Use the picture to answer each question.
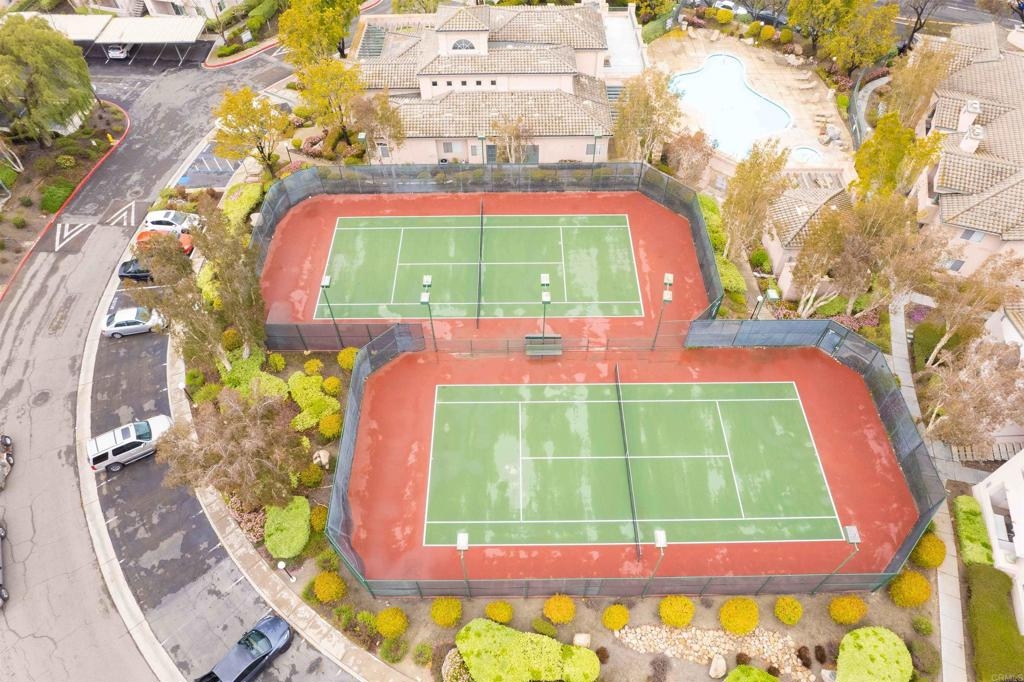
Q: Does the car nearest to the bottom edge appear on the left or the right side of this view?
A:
left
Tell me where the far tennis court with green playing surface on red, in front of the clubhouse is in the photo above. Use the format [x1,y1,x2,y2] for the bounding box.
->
[262,191,710,349]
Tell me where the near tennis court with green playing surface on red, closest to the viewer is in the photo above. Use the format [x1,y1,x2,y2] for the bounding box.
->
[338,346,919,582]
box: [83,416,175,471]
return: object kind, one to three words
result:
car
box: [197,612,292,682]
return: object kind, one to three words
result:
car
